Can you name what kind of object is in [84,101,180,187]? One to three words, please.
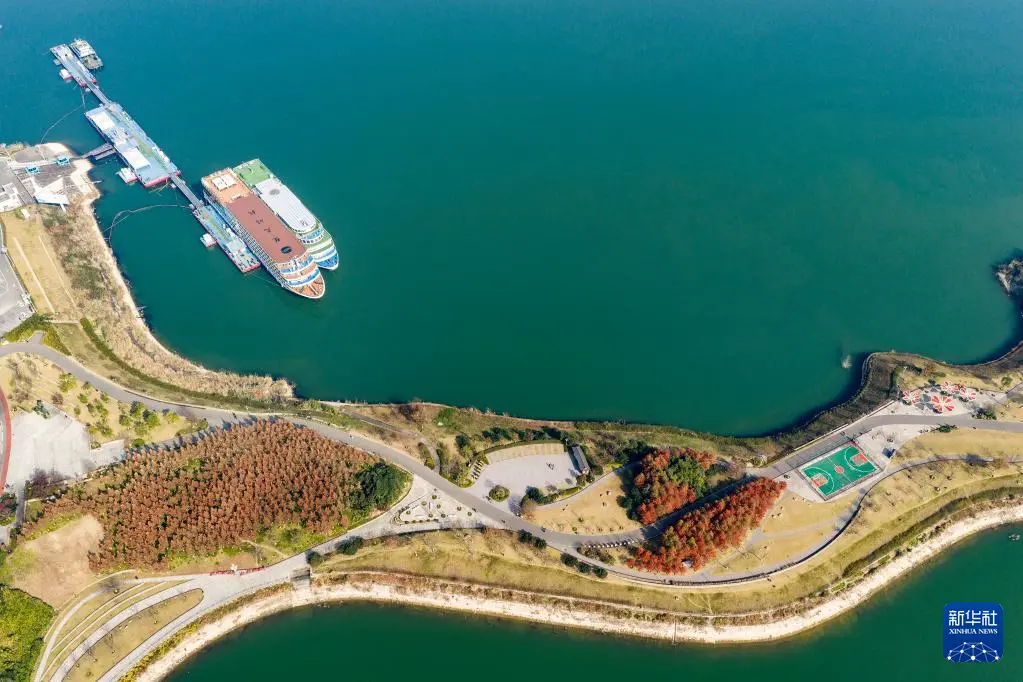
pier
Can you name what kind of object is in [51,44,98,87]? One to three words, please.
pier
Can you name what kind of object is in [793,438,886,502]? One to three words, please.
basketball court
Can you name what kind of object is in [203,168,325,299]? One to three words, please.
ship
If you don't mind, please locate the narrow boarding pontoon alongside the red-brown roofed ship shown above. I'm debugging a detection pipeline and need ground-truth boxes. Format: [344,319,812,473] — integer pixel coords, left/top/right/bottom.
[191,206,261,274]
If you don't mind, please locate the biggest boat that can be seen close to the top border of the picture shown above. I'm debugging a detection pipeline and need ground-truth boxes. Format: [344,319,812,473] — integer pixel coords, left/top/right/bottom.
[67,34,103,70]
